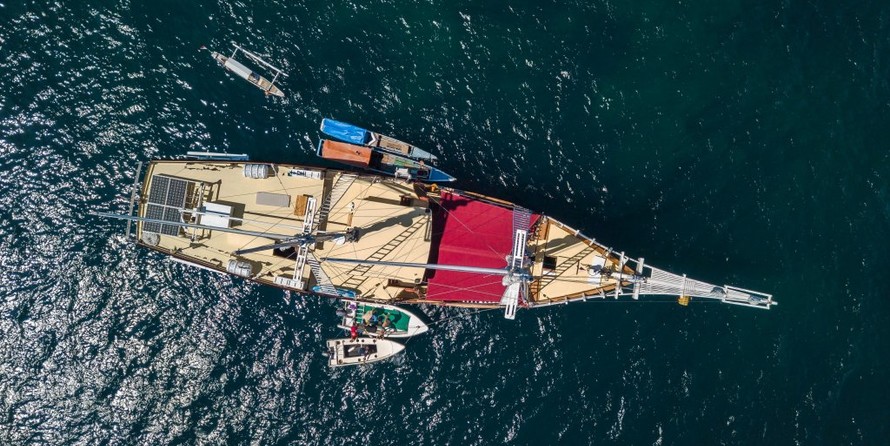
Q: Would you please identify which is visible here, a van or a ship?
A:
ship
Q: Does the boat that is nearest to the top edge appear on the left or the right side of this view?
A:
left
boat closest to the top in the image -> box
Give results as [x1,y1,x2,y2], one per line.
[203,43,289,97]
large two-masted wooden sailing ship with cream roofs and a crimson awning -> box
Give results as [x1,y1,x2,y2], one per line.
[89,158,778,320]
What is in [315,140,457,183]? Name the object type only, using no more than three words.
boat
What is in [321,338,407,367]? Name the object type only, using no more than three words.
boat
